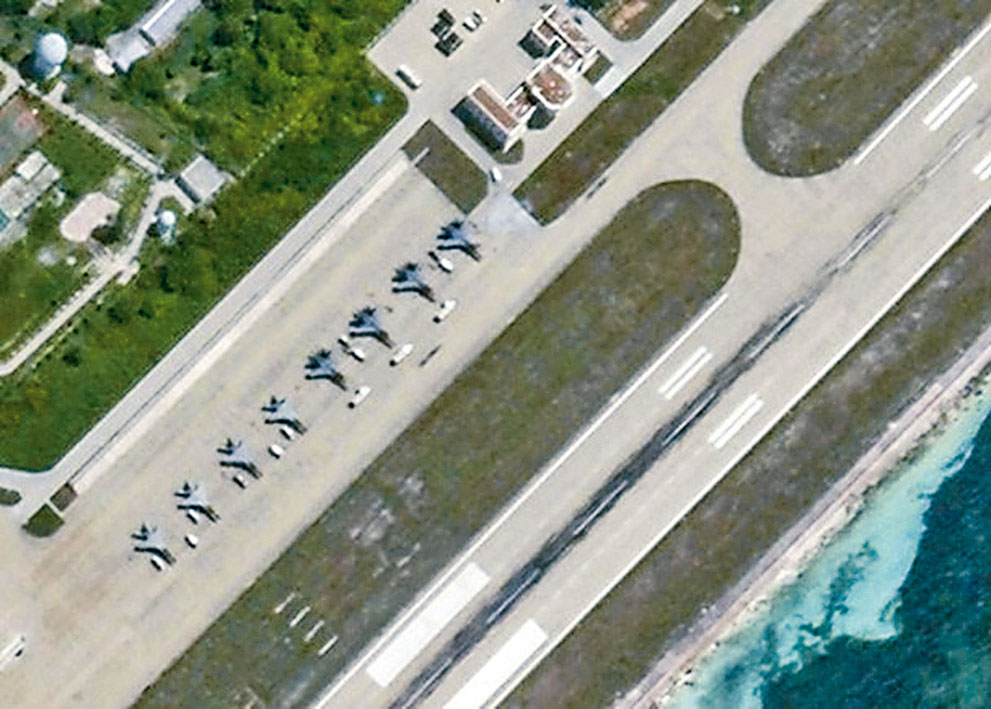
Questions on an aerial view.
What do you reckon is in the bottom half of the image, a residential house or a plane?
plane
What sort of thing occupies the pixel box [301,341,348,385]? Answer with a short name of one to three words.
airplane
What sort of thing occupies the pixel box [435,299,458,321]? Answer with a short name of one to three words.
truck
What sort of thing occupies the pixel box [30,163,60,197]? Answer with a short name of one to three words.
house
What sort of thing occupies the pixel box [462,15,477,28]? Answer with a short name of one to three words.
vehicle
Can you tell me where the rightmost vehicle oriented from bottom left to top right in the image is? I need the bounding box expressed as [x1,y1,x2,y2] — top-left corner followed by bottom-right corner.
[587,178,606,197]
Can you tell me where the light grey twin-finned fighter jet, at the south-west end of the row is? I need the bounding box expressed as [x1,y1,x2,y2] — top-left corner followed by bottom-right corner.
[125,515,173,558]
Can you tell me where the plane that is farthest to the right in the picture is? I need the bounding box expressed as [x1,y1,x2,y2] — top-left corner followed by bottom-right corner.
[435,214,481,255]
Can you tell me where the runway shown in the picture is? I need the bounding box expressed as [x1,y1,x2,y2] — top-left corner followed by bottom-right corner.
[315,20,991,709]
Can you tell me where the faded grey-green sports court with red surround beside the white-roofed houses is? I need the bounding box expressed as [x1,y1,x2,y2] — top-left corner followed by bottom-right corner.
[0,96,49,172]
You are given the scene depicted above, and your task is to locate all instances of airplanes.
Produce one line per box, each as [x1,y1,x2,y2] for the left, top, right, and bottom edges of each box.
[435,214,481,255]
[213,429,260,472]
[346,299,394,341]
[301,341,348,385]
[125,515,173,558]
[389,253,436,296]
[257,386,305,429]
[170,473,219,517]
